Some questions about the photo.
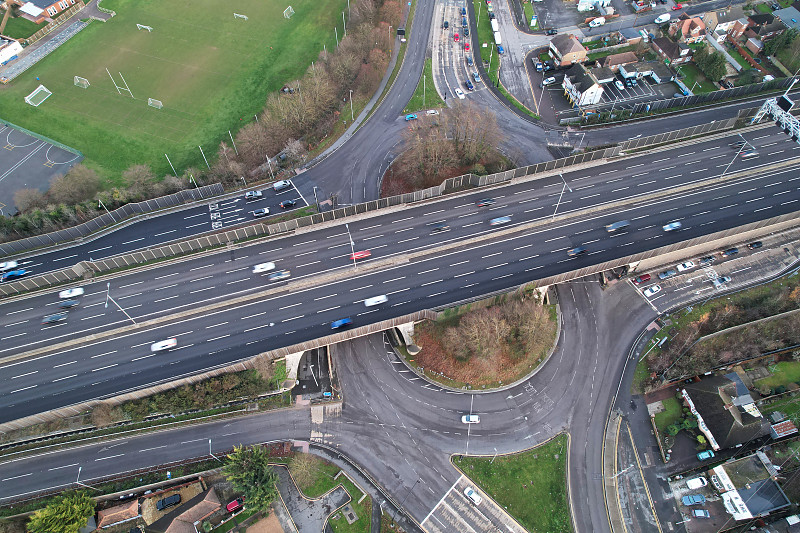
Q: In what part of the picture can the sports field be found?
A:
top left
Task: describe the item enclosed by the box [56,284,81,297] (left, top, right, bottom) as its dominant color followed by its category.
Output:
white vehicle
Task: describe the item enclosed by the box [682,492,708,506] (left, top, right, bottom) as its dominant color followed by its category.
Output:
blue vehicle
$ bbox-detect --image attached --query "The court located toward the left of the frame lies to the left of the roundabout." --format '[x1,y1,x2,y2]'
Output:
[0,121,83,220]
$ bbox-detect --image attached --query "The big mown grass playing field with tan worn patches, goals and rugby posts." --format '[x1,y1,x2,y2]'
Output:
[0,0,347,199]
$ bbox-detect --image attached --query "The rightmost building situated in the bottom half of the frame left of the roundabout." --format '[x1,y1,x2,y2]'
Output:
[162,485,226,533]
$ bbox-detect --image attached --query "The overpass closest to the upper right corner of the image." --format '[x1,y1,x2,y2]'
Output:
[503,160,644,305]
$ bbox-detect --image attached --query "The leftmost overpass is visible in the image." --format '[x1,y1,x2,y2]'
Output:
[284,208,420,396]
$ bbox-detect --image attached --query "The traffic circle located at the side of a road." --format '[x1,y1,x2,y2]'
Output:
[288,0,662,533]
